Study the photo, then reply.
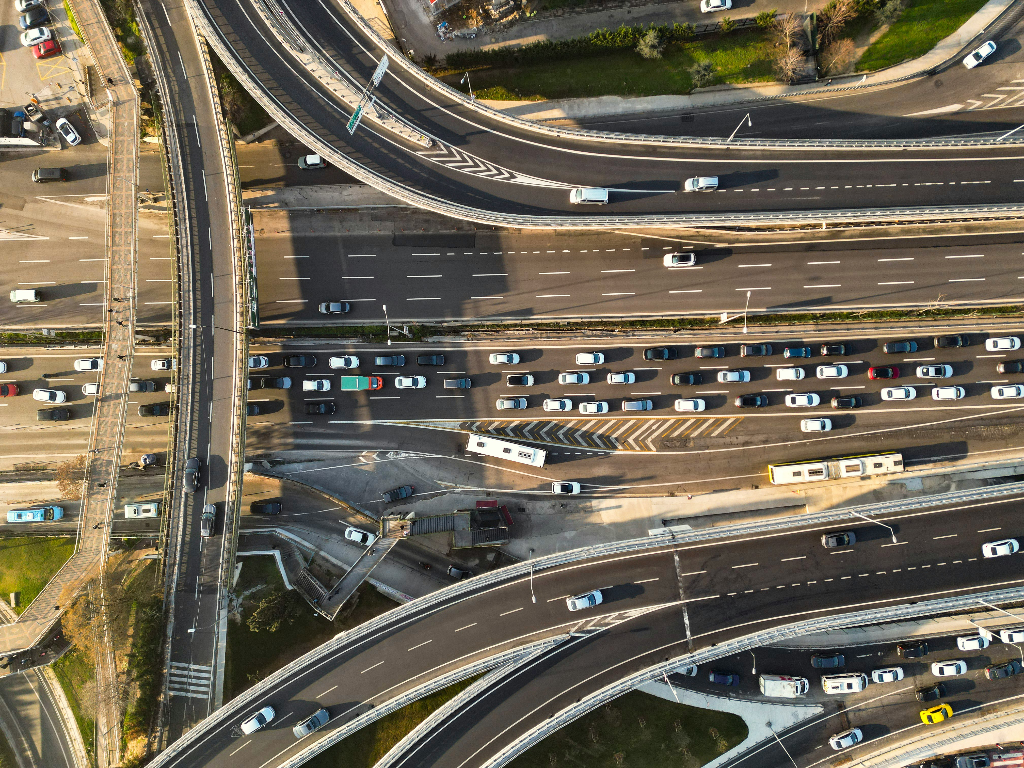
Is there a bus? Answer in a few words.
Yes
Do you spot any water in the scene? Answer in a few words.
No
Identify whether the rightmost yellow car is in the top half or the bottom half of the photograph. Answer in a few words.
bottom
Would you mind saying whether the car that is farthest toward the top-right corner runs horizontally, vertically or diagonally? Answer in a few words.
diagonally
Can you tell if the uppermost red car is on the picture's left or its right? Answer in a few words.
left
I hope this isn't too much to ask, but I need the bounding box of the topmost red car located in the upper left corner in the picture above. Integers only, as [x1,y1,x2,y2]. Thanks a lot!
[34,40,63,60]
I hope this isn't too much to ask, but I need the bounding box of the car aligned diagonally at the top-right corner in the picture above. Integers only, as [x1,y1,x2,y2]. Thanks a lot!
[963,40,996,69]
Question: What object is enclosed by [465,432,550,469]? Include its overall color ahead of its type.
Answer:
white bus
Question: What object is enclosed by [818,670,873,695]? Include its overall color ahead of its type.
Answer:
white vehicle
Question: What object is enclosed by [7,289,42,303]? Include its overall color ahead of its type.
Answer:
white vehicle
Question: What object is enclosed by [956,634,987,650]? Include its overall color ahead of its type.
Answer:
white car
